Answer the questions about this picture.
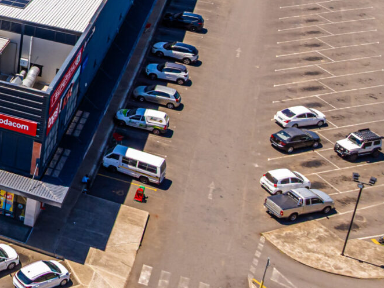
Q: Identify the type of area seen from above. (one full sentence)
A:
It's a parking lot.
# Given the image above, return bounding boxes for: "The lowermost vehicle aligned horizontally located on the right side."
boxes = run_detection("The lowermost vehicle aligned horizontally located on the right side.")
[265,186,341,222]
